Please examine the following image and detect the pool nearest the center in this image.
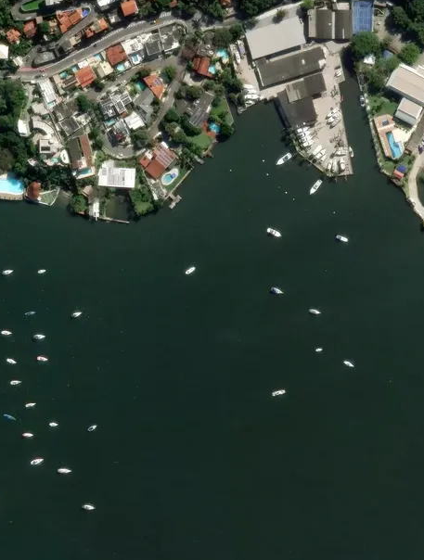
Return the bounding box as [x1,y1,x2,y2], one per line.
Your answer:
[163,169,177,186]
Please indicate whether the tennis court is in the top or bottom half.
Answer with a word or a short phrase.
top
